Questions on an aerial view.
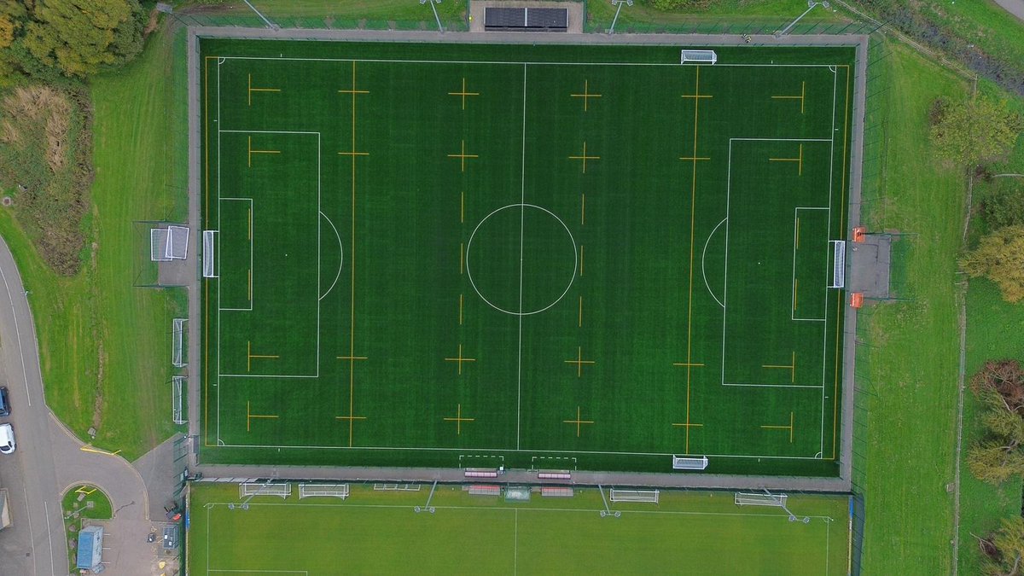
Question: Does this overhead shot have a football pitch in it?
Yes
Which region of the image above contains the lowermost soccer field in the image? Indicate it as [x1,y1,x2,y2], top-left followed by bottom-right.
[187,479,851,576]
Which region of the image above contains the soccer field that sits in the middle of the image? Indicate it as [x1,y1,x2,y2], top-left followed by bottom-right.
[199,39,856,477]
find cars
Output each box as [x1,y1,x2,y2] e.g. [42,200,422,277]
[0,424,15,454]
[0,388,10,416]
